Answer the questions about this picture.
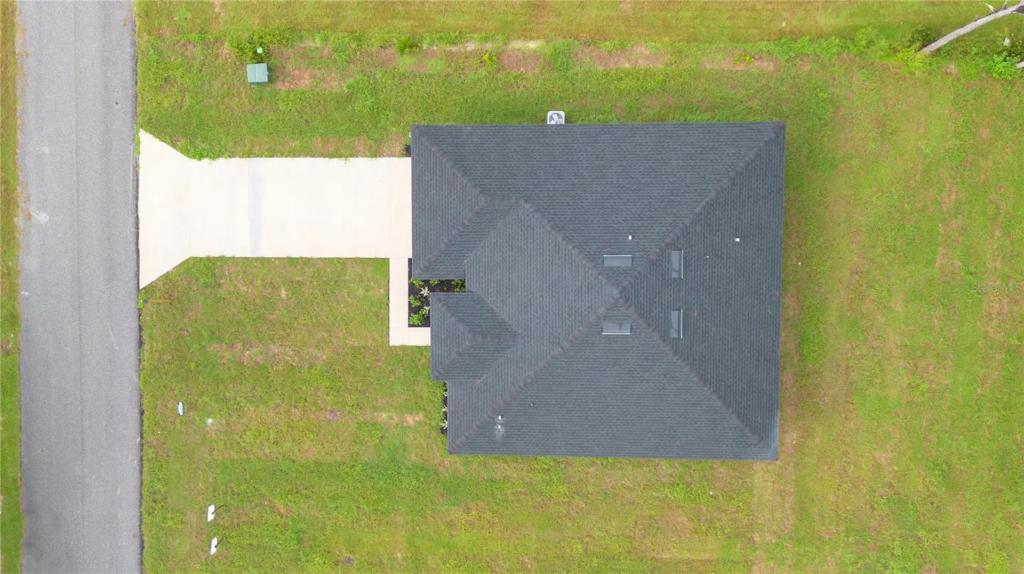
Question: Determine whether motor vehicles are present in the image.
No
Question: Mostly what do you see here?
grass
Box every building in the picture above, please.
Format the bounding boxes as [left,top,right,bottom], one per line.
[409,119,786,462]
